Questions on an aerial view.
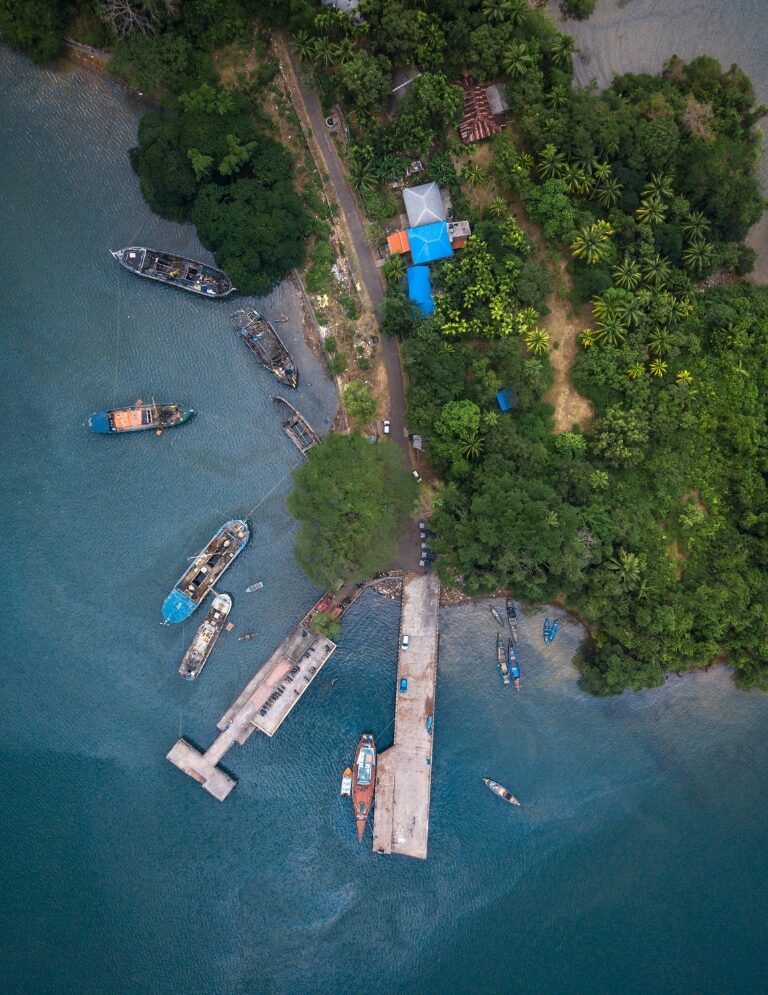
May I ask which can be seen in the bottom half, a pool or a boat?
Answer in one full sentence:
Looking in the bottom half, you will find a boat.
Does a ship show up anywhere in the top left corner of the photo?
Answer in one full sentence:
Yes, I can see a ship in the top left corner of the photo.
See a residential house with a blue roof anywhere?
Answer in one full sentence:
Yes, I can see a residential house with a blue roof in this picture.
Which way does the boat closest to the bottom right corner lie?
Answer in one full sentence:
In this picture, the boat closest to the bottom right corner is oriented on a diagonal.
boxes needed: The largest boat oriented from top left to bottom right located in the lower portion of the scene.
[484,778,520,806]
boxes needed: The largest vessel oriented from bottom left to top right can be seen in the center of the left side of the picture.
[160,520,251,625]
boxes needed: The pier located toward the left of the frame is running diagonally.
[166,575,402,801]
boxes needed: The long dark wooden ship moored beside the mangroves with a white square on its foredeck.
[107,245,238,298]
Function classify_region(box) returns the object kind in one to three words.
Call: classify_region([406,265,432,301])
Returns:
house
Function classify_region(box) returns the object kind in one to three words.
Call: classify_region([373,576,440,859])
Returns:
pier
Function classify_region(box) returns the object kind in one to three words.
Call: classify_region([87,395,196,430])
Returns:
ship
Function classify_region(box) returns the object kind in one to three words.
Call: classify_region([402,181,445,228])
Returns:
house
